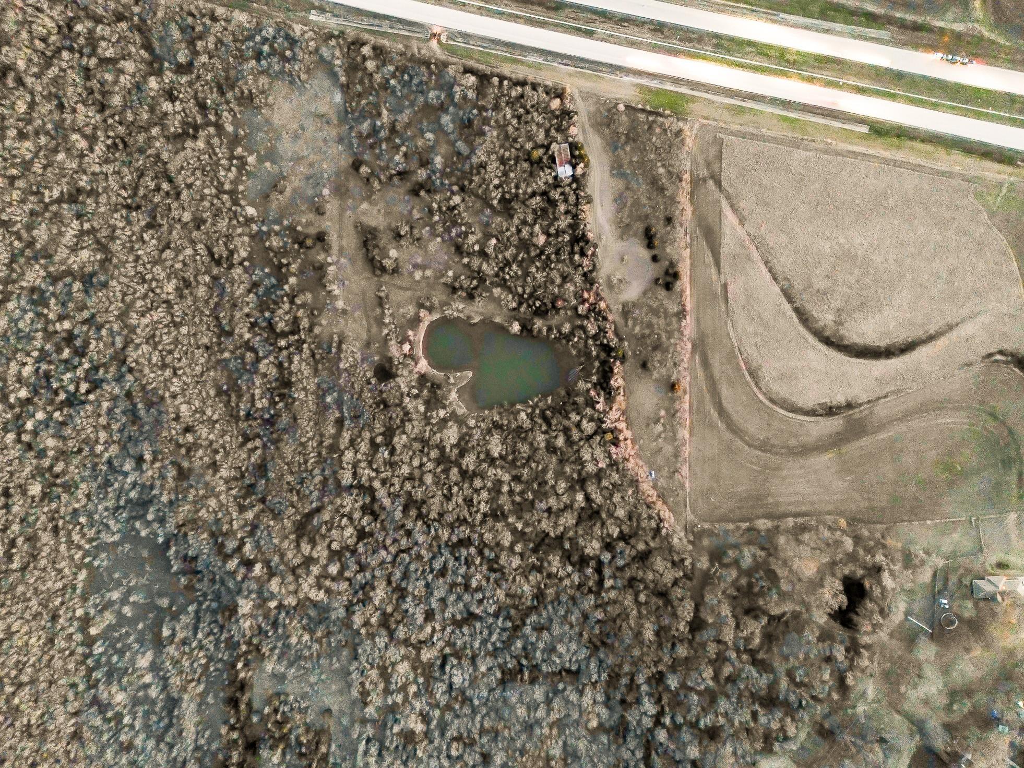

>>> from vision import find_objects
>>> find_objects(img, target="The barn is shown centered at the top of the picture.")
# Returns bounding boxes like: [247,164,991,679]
[557,143,573,176]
